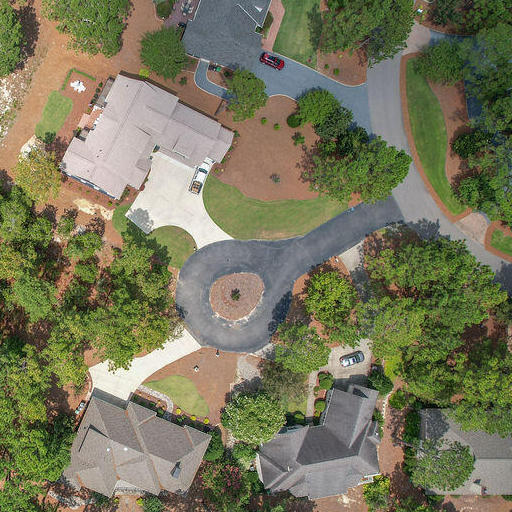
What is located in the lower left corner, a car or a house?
house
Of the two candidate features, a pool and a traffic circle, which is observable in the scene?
traffic circle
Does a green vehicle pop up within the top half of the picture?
No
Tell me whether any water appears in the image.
No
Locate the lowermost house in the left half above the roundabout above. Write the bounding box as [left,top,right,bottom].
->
[61,74,234,201]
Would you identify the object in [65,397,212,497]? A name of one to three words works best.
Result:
house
